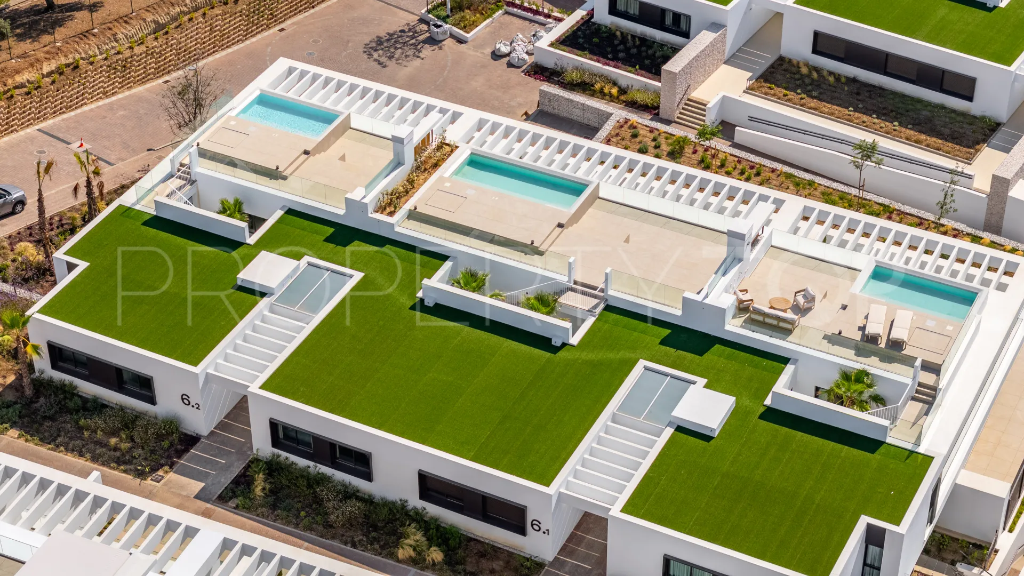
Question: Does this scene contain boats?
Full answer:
No, there appears to be no boat in this shot.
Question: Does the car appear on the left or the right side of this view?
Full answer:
It is on the left.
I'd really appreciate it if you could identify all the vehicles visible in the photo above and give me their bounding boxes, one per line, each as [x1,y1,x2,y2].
[0,175,28,216]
